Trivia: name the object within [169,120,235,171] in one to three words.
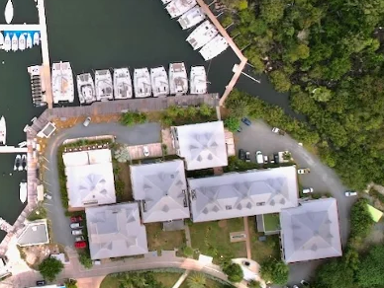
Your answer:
building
